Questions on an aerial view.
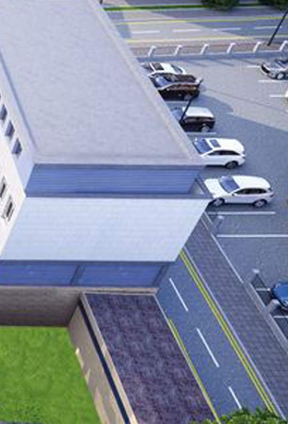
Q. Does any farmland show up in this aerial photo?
No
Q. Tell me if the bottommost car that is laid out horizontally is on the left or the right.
right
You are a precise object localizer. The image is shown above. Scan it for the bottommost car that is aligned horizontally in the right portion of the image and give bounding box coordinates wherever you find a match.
[210,176,288,208]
